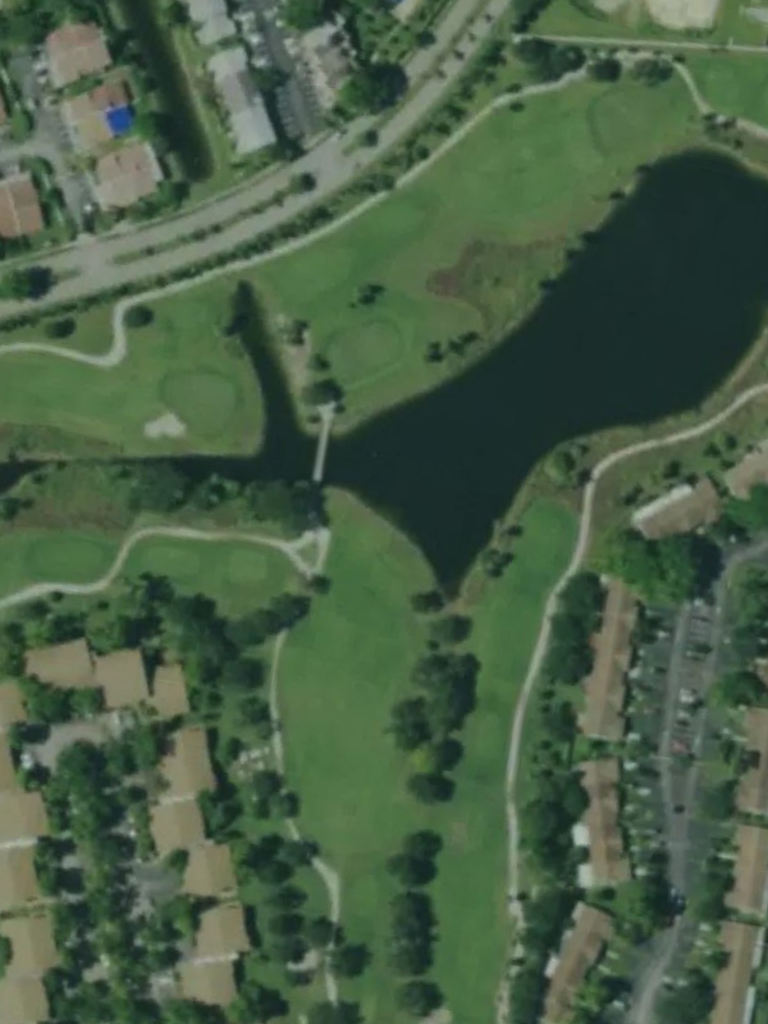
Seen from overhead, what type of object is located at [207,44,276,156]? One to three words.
building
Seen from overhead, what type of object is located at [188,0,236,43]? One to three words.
building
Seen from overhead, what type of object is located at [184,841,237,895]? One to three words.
house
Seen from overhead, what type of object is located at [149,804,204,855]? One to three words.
house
